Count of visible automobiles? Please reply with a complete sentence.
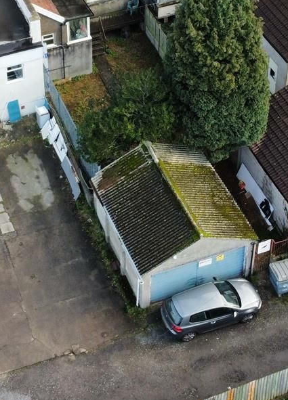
The count comes to 1 automobile.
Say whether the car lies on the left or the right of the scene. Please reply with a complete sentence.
The car is on the right side of the image.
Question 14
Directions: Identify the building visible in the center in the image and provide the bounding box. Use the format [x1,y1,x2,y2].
[85,142,260,309]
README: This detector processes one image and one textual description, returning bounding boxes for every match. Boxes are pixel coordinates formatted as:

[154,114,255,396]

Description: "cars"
[155,272,264,341]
